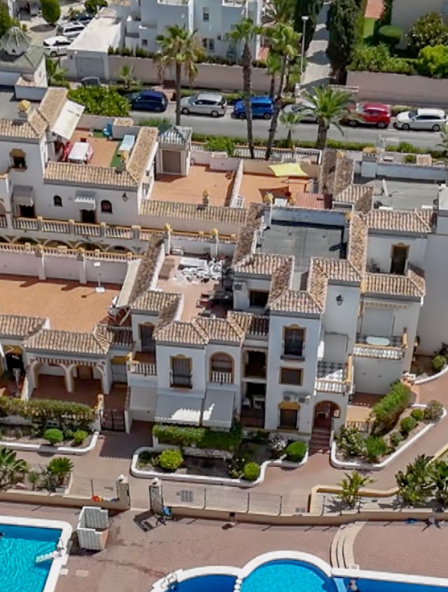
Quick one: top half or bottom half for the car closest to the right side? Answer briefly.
top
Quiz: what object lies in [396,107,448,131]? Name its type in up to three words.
car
